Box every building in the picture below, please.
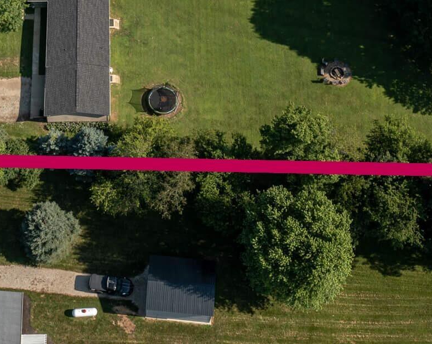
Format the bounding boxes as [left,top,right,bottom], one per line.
[145,255,215,325]
[0,292,49,344]
[27,0,121,124]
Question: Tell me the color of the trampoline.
black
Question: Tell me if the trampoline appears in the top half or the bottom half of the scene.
top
